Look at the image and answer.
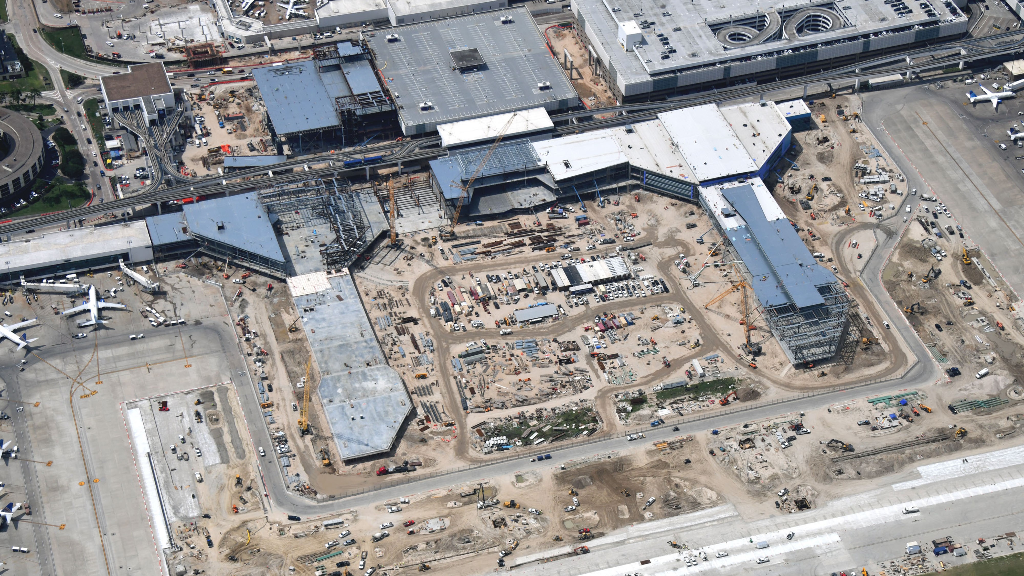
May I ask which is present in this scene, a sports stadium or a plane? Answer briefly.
plane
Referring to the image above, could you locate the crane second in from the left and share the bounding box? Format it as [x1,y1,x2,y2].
[383,178,405,250]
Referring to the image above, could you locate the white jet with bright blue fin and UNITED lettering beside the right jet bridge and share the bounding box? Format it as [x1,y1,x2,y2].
[963,79,1015,106]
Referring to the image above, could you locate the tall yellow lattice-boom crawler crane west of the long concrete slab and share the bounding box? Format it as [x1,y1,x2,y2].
[295,354,315,441]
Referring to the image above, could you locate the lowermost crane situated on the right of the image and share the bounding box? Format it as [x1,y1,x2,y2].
[705,278,761,356]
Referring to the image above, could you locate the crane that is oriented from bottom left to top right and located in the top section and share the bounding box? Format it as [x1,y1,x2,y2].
[431,114,517,242]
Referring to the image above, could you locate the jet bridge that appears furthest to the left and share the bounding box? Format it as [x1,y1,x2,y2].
[19,275,88,297]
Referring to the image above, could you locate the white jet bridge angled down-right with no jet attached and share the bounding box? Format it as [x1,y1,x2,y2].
[118,258,157,292]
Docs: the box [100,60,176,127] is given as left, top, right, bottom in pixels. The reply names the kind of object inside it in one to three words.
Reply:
building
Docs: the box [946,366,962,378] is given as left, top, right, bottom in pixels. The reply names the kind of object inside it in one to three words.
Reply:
vehicle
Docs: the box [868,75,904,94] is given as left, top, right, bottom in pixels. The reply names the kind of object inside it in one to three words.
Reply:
shed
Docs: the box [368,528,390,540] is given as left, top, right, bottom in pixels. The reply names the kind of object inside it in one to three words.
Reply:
vehicle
